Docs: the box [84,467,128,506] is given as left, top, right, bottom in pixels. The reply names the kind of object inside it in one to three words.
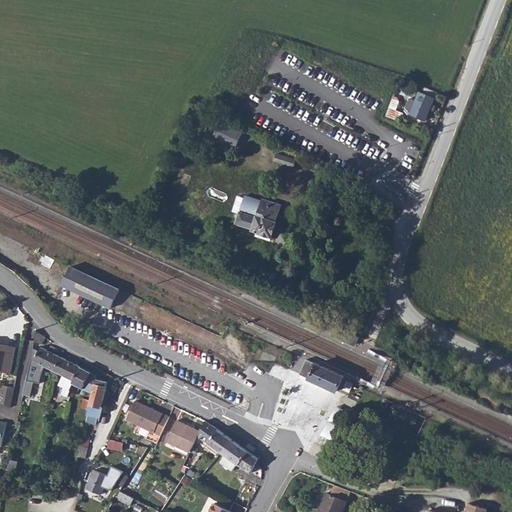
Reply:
house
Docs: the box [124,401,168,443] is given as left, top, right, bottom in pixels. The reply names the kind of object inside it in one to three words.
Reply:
house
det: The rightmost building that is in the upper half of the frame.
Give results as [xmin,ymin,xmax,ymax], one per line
[405,92,434,120]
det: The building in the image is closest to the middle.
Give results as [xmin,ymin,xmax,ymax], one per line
[232,196,281,243]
